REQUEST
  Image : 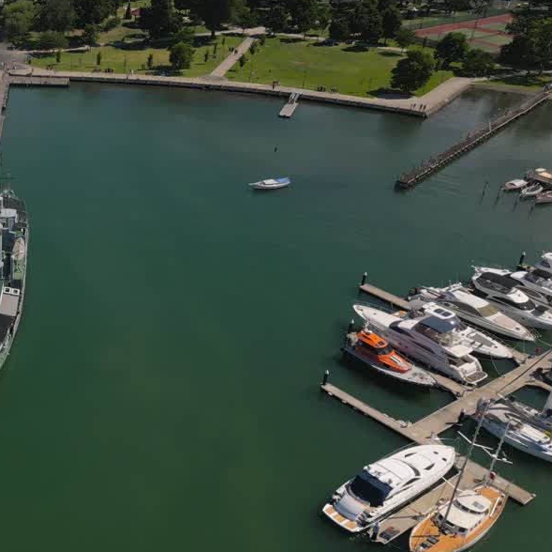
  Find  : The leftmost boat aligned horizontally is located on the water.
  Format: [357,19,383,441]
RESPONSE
[250,177,292,191]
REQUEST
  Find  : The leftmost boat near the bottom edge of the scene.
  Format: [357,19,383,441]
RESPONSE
[326,444,456,536]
